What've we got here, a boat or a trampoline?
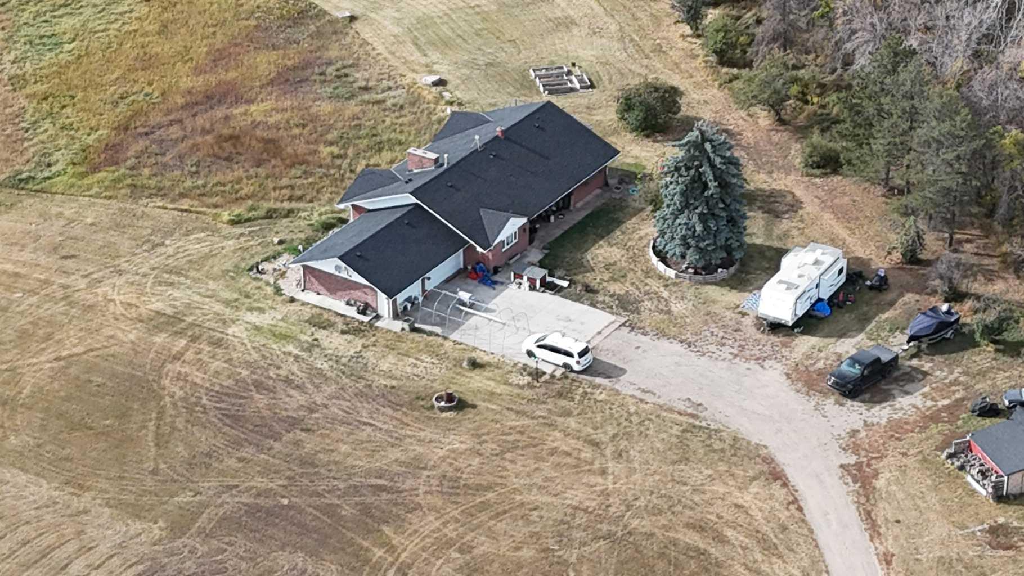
boat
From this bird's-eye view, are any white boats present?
No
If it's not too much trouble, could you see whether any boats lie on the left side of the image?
No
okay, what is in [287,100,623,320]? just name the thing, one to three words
house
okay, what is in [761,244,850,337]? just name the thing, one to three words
vehicle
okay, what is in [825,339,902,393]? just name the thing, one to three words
truck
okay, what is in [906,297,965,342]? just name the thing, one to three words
boat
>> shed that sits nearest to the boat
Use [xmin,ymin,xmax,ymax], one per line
[966,412,1024,498]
